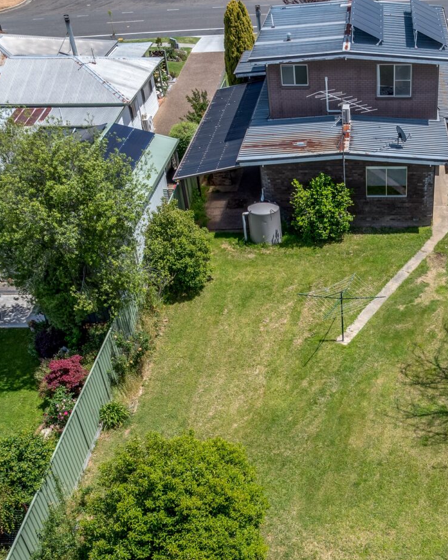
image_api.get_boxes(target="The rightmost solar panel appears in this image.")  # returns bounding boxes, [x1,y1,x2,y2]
[410,0,446,48]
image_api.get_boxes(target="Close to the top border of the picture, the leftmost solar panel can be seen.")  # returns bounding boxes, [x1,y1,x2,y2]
[351,0,384,43]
